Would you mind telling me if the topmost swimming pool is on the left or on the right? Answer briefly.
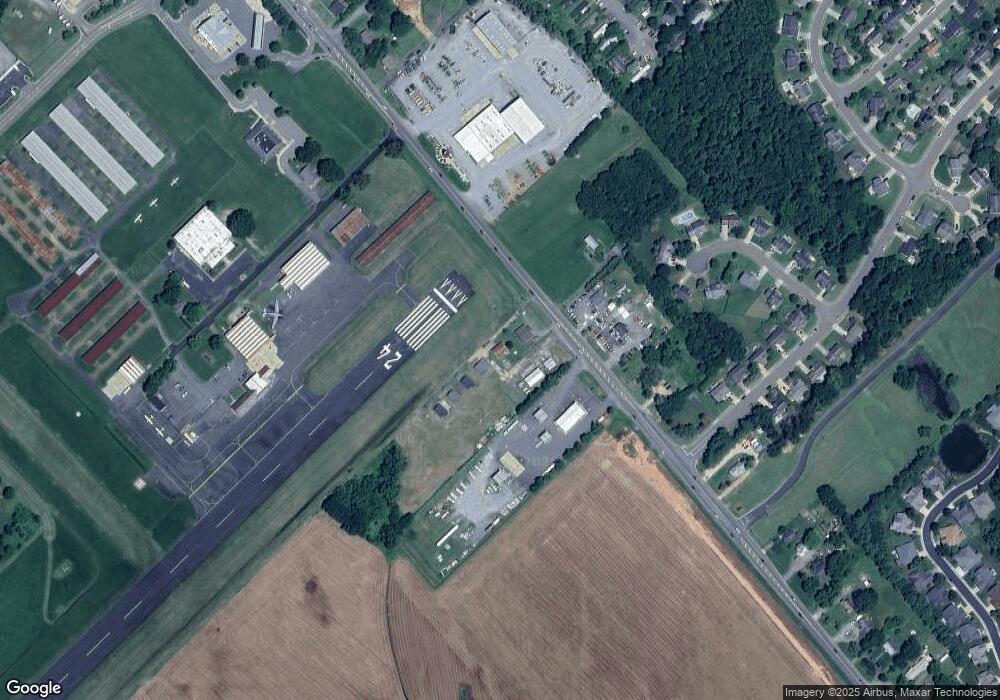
right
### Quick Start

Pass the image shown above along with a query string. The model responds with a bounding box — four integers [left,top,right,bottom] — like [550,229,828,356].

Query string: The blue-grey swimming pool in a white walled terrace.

[672,208,695,227]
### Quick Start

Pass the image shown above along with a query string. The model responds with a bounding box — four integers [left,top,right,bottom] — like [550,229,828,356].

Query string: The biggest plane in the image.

[265,299,283,329]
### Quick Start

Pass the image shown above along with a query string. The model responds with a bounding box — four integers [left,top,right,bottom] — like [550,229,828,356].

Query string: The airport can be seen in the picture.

[16,185,479,700]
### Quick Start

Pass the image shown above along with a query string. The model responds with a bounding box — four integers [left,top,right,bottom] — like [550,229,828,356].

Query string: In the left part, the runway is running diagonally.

[16,269,479,700]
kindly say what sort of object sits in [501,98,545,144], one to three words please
building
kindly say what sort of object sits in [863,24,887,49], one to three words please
house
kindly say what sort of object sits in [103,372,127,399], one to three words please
building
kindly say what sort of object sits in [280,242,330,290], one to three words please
hangar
